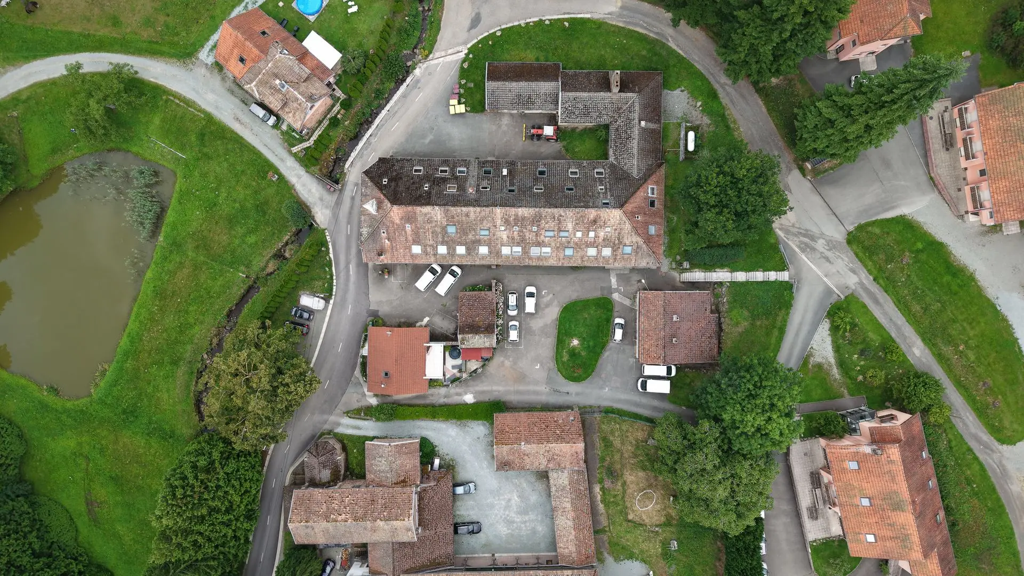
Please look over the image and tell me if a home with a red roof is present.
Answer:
Yes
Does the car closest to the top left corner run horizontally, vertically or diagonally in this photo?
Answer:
diagonally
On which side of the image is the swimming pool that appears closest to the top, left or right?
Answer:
left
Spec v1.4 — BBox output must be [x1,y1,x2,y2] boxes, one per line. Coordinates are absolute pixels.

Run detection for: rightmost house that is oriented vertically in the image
[953,75,1024,225]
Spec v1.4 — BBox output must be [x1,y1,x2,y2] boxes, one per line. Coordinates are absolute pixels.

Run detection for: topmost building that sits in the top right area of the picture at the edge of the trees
[824,0,932,56]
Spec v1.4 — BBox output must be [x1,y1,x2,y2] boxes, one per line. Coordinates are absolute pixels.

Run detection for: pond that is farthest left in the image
[0,149,179,398]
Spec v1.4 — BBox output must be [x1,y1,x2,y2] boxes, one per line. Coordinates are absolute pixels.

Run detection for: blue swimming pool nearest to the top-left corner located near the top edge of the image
[292,0,329,22]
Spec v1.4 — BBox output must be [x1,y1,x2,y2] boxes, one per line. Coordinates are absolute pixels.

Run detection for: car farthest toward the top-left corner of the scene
[250,103,276,125]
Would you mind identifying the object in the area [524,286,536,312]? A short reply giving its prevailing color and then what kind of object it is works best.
white vehicle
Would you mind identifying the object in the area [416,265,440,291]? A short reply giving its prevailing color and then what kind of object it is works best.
white vehicle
